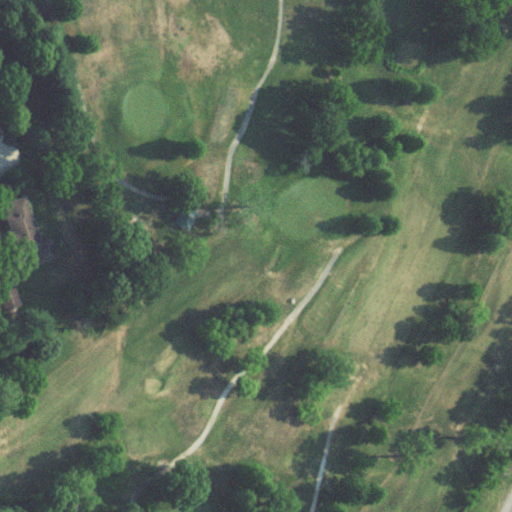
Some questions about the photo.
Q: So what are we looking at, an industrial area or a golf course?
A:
golf course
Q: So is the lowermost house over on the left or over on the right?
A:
left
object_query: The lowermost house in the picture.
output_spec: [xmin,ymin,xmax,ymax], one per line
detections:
[1,286,22,314]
